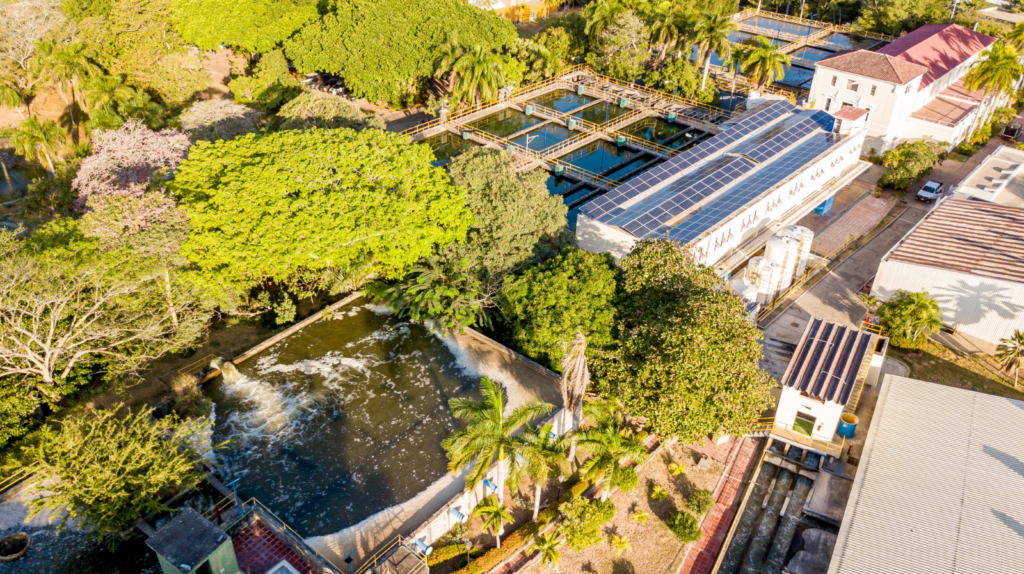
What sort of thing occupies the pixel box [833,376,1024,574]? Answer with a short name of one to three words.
shed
